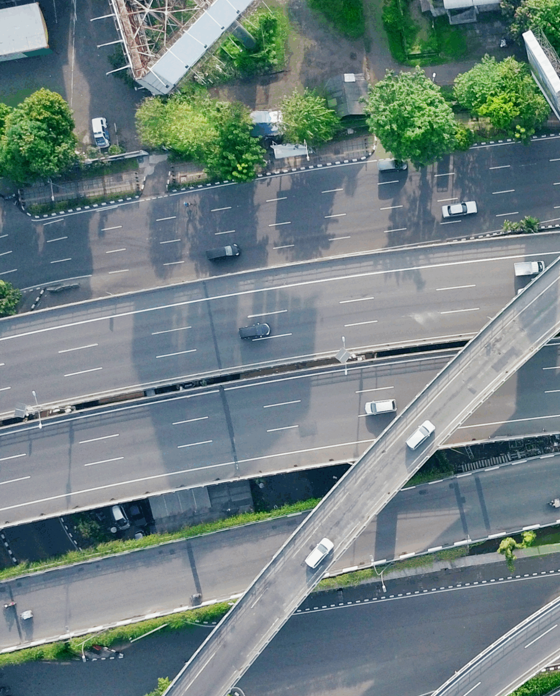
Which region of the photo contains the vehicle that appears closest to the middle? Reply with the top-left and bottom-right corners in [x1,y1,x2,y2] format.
[237,322,271,341]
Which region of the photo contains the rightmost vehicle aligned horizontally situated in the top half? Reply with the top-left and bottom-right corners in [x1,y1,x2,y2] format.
[513,259,545,276]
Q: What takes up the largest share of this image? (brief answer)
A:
paved ground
